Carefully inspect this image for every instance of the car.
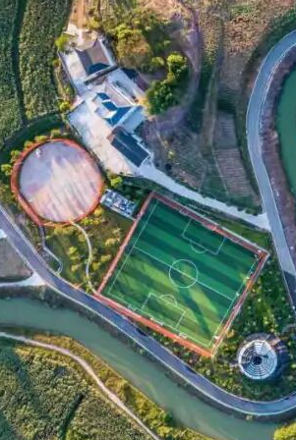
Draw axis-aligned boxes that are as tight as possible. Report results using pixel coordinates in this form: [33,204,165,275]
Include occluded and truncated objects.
[135,328,146,337]
[185,365,196,375]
